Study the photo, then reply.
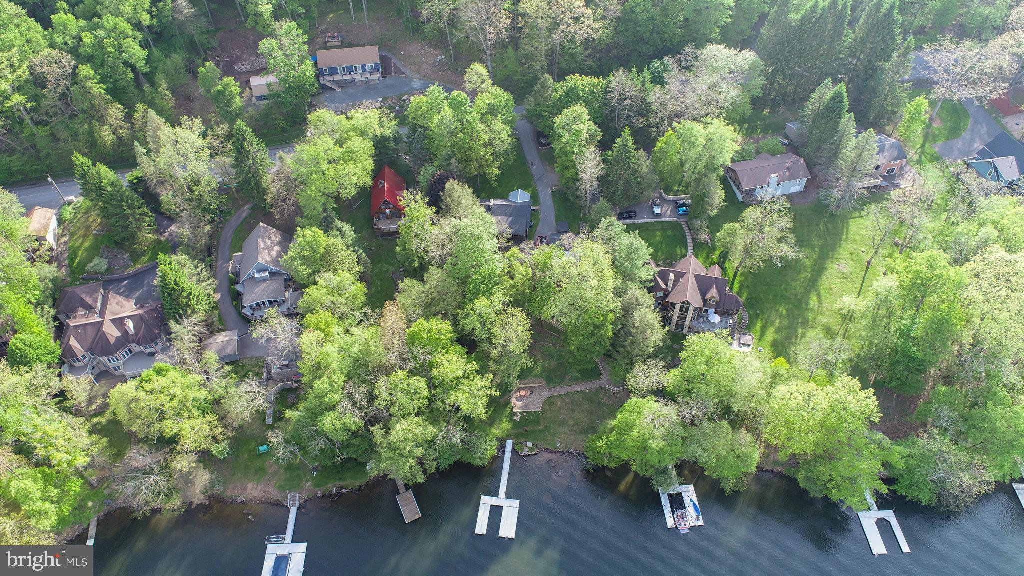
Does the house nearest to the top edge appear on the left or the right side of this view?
left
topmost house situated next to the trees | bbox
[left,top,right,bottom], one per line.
[317,46,383,91]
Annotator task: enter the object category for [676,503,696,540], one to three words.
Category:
boat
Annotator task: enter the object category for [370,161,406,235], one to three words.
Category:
house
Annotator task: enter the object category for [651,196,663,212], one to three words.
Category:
vehicle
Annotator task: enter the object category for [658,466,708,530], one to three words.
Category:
pier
